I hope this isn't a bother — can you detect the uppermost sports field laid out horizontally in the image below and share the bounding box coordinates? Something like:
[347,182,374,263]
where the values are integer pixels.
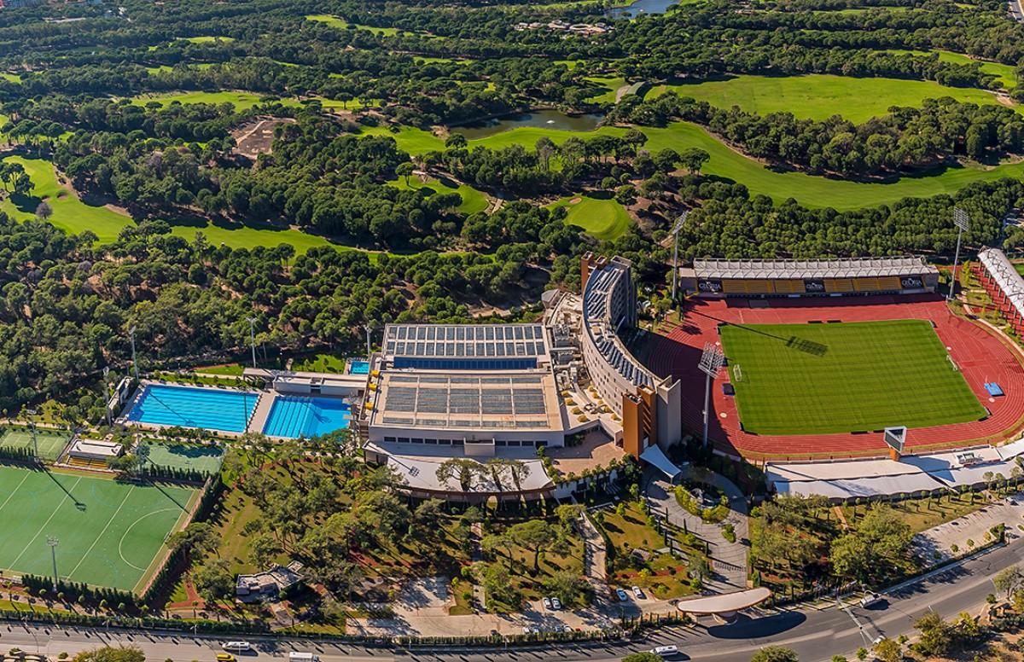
[720,319,989,433]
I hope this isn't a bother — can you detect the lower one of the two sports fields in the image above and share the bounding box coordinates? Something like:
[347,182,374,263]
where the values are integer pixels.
[0,467,194,590]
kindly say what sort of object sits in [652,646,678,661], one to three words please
vehicle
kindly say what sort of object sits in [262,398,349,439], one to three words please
swimming pool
